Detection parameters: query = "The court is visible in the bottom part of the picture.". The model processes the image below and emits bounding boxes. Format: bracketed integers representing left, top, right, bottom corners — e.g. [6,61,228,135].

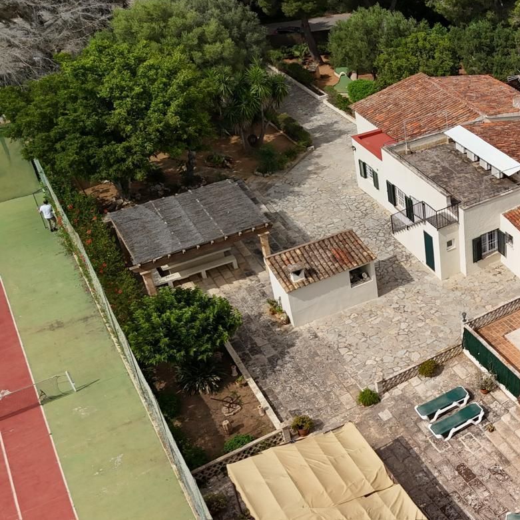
[0,188,199,520]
